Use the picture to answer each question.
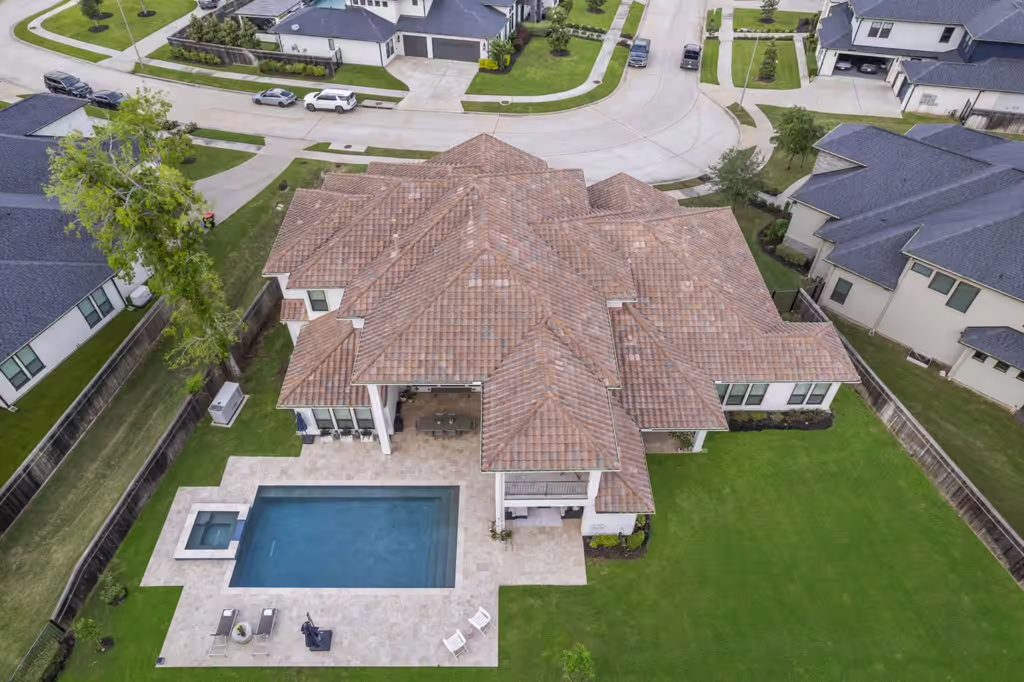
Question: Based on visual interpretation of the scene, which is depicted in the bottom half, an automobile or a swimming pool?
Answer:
swimming pool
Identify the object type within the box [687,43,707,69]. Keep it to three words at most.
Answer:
vehicle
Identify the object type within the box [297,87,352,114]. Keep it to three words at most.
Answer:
car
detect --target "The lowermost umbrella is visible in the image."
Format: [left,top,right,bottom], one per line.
[300,606,334,650]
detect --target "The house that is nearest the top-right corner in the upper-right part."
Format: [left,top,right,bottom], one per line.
[802,0,1024,120]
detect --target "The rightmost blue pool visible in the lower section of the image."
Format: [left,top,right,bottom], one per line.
[220,480,466,594]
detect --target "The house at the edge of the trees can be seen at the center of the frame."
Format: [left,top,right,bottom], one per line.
[260,131,864,536]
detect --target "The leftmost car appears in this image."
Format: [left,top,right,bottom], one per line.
[42,68,97,98]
